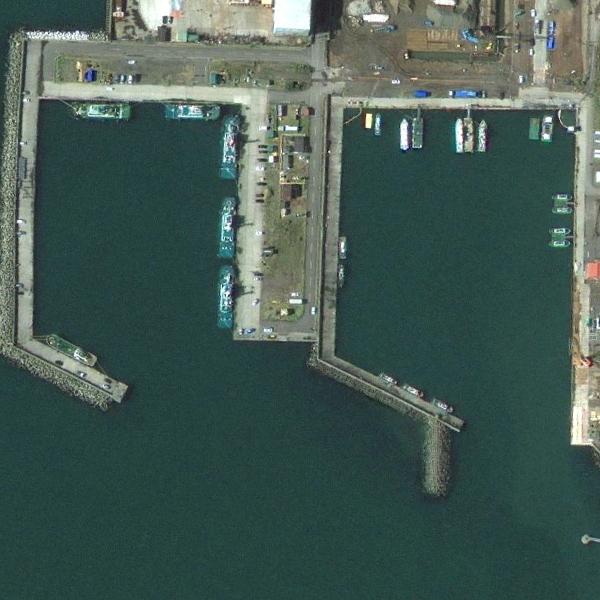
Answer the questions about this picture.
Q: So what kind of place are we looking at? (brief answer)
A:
port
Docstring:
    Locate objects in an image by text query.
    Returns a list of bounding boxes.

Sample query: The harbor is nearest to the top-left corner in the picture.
[33,81,318,385]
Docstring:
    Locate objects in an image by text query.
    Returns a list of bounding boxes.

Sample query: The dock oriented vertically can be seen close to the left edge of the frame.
[0,29,128,411]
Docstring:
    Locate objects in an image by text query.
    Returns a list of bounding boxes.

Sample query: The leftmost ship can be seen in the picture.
[45,333,101,368]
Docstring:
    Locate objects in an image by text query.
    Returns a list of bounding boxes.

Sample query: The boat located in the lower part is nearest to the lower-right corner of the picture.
[432,399,452,412]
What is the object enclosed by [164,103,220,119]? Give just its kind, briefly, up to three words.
boat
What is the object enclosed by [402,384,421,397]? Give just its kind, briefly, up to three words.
boat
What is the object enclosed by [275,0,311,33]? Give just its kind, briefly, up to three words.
building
